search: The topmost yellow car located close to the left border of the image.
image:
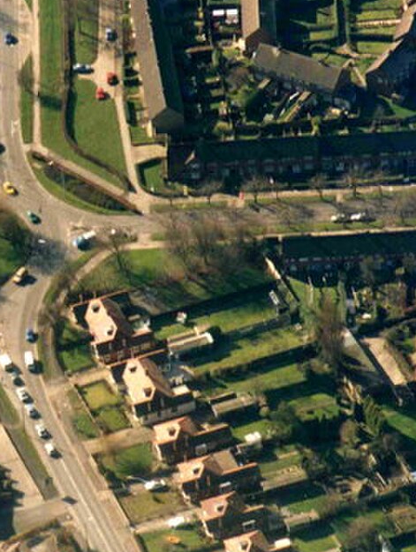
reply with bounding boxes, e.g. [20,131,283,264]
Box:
[3,182,17,195]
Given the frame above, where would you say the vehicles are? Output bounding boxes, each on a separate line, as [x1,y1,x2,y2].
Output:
[10,370,24,385]
[75,64,92,73]
[25,403,37,418]
[27,328,34,342]
[146,480,167,490]
[109,72,116,85]
[3,182,17,195]
[35,423,49,438]
[112,484,132,495]
[0,356,12,371]
[26,211,40,224]
[5,33,12,44]
[350,212,368,221]
[58,495,79,505]
[96,88,106,100]
[14,267,27,282]
[46,441,58,457]
[329,214,348,223]
[70,227,97,250]
[18,388,30,403]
